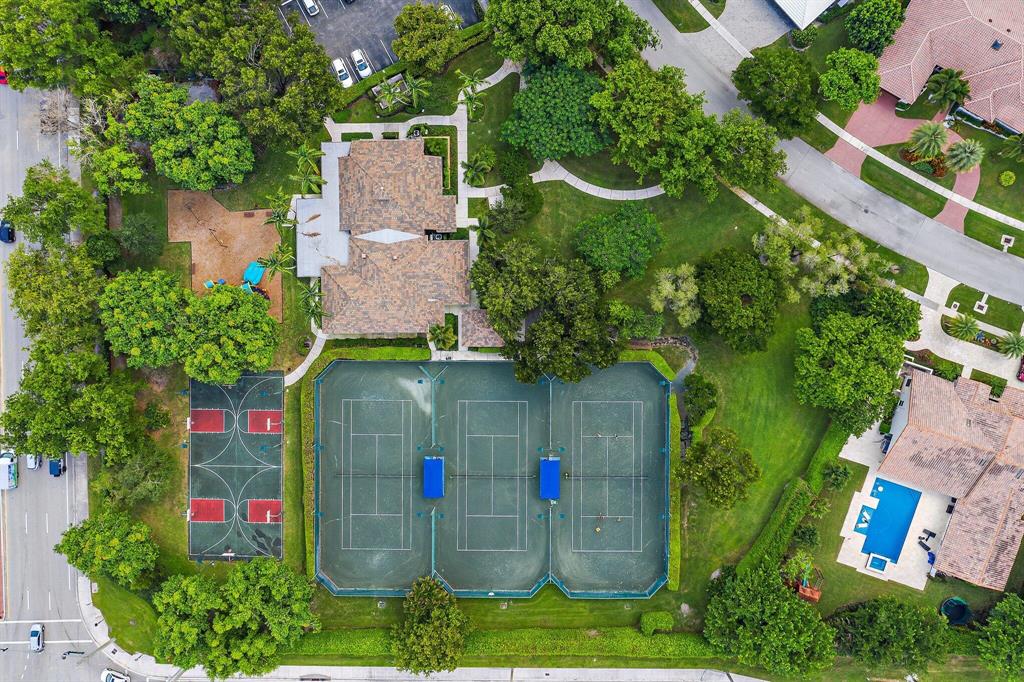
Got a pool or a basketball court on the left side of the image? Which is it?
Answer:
basketball court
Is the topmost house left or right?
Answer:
right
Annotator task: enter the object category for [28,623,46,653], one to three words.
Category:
car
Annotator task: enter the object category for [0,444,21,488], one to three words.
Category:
truck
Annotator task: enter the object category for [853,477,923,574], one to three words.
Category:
swimming pool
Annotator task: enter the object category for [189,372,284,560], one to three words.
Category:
basketball court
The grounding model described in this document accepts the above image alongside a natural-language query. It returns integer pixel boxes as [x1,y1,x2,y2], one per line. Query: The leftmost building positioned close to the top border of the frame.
[769,0,833,29]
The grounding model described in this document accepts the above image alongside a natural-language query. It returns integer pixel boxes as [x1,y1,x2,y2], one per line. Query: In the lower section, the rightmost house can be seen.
[878,369,1024,590]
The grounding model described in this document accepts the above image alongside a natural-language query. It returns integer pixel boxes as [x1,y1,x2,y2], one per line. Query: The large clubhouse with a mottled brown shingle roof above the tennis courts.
[296,139,470,333]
